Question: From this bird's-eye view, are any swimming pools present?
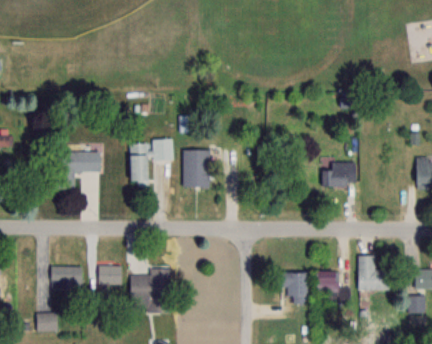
No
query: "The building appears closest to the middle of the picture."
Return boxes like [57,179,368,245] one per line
[183,150,210,192]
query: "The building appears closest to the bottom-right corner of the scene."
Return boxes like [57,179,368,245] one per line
[408,295,426,314]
